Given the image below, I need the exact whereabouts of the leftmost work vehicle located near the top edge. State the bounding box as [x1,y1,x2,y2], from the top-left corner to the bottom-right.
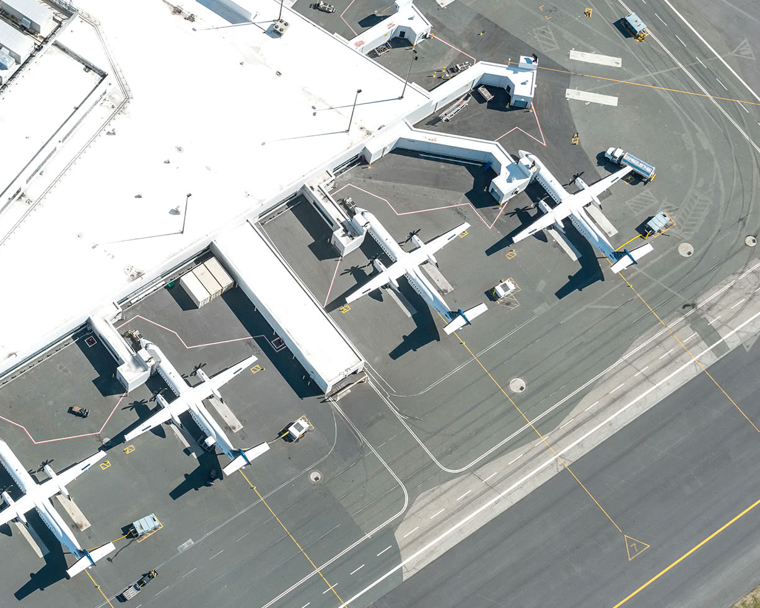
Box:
[315,0,335,14]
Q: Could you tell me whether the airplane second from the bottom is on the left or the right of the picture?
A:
left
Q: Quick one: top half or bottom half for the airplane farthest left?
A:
bottom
